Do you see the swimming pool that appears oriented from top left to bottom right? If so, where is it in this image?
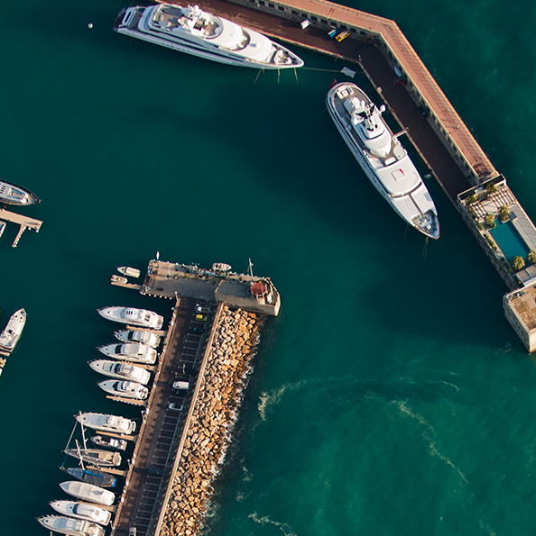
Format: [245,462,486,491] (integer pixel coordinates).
[490,220,531,269]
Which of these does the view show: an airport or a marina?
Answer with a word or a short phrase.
marina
